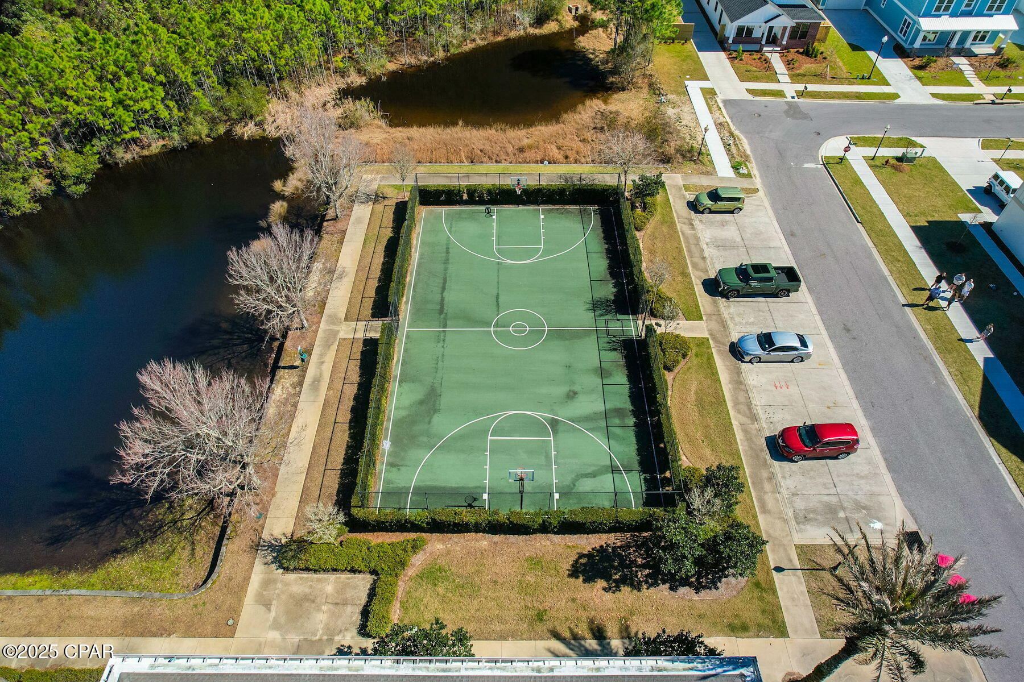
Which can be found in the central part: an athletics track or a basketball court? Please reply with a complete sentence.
The feature located in the central part is a basketball court.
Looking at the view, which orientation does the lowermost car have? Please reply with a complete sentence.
From this overhead view, the lowermost car appears to run from side to side.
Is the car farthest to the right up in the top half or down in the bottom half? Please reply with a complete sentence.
It is in the top half that the car farthest to the right appears.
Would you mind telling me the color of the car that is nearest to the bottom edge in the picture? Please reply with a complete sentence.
The color of the car that is nearest to the bottom edge is red.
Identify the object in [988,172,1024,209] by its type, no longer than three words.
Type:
car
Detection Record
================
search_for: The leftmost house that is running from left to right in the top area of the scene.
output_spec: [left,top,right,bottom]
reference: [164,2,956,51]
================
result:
[705,0,827,52]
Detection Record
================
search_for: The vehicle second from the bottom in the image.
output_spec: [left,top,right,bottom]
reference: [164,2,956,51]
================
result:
[736,329,817,362]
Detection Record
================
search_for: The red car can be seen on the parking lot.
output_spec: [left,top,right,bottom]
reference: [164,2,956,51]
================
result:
[775,420,865,461]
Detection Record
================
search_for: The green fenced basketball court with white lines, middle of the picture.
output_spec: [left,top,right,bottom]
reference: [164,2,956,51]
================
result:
[370,204,671,512]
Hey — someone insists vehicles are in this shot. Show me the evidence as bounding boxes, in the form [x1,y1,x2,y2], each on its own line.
[988,172,1024,209]
[694,188,748,215]
[736,329,817,362]
[775,420,865,461]
[716,266,806,302]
